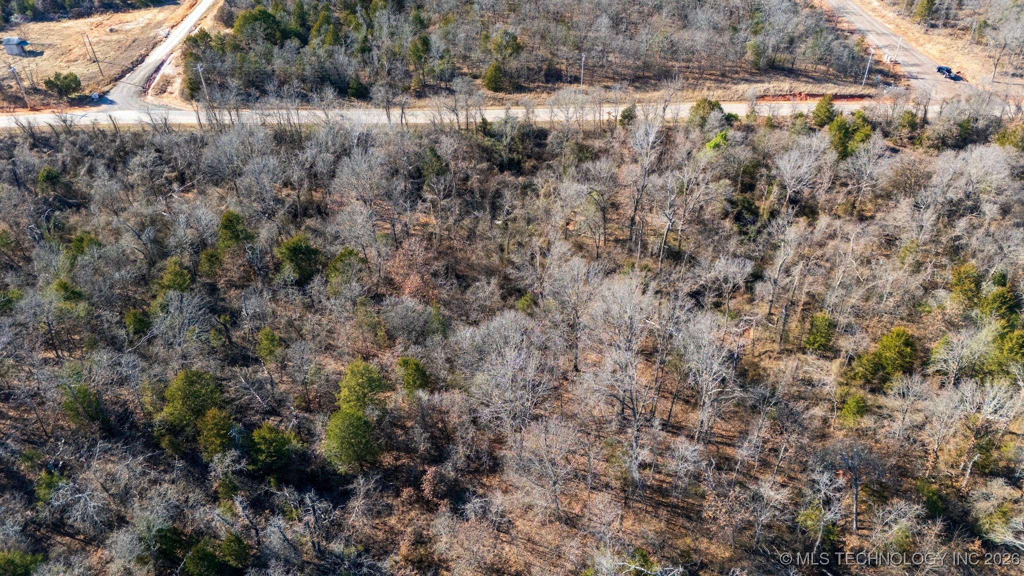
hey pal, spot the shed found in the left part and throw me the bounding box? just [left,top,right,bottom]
[4,40,38,56]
